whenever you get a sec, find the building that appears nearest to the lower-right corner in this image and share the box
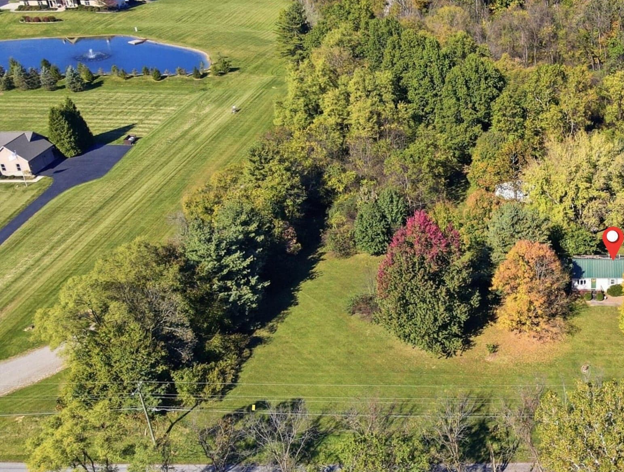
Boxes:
[570,255,624,293]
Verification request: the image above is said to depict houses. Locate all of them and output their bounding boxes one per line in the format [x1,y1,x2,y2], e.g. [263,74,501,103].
[0,121,65,176]
[570,255,624,293]
[16,0,119,9]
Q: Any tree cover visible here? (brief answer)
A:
Yes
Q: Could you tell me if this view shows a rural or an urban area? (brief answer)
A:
rural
